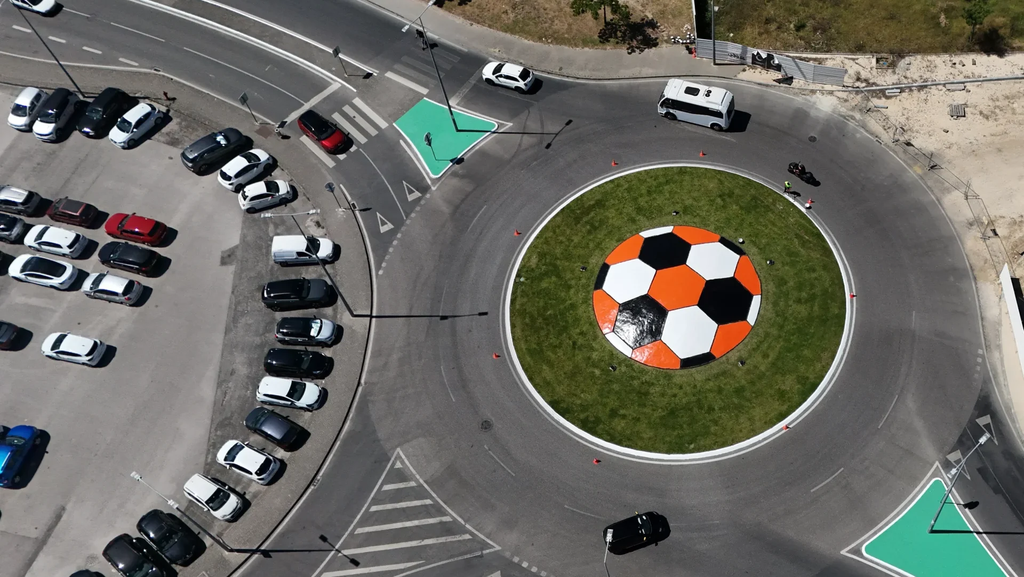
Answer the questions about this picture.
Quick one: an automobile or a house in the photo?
automobile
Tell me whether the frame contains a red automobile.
Yes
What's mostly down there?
paved ground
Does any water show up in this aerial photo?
No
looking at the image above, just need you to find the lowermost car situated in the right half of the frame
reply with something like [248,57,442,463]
[603,509,675,554]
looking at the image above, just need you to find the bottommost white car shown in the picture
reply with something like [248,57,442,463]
[176,467,242,523]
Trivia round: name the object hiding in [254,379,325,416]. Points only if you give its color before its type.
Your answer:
white car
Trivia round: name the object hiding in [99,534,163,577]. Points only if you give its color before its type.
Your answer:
black car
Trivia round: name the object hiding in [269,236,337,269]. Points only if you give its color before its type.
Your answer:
white vehicle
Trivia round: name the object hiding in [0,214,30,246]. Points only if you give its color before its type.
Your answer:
black car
